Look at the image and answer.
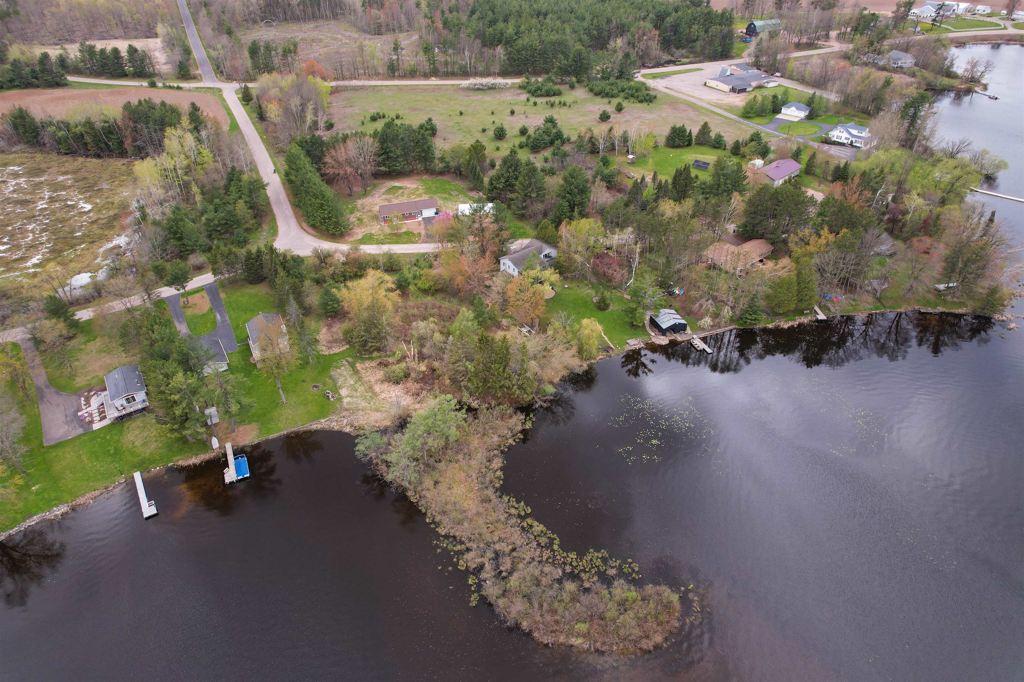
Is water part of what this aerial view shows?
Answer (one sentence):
Yes, the picture does contain water.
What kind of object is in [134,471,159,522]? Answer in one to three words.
pier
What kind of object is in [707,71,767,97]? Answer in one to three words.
building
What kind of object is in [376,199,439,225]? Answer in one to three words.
house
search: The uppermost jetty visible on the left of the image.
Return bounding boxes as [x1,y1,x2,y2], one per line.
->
[219,442,237,488]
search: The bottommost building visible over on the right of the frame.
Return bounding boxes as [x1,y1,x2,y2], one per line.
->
[647,307,690,336]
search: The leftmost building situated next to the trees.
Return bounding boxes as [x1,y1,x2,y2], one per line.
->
[94,363,153,418]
